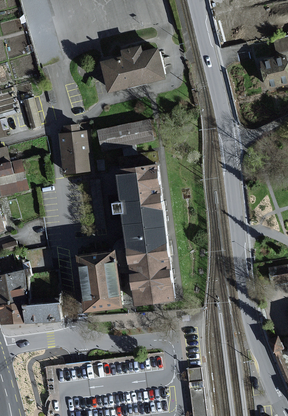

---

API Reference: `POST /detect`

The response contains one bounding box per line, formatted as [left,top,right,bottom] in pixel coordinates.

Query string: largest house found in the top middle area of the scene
[101,46,168,92]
